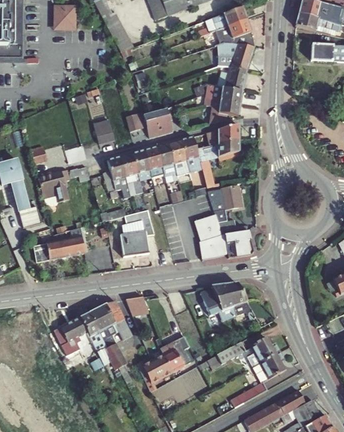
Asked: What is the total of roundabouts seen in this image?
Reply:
1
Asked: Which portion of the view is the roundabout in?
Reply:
right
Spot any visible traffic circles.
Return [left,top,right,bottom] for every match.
[266,166,340,240]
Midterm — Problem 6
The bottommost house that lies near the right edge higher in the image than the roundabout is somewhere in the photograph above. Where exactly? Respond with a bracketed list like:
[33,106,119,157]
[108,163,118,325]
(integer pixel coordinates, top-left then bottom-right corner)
[310,42,335,66]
